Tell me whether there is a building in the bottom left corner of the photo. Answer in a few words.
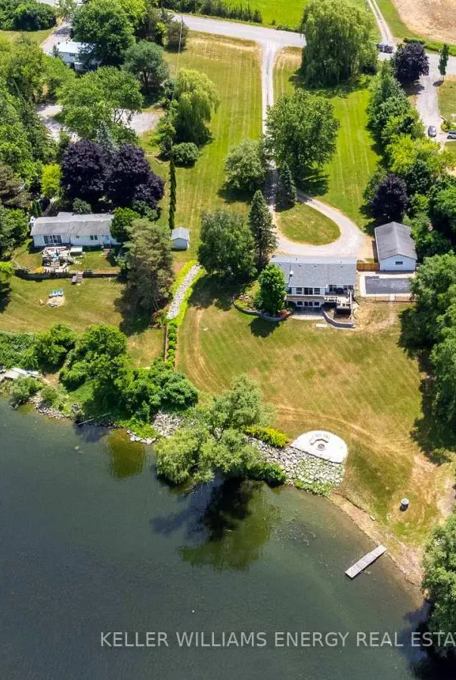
No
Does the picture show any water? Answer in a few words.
Yes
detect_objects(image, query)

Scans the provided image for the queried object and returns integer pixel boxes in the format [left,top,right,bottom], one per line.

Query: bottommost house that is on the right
[267,255,357,322]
